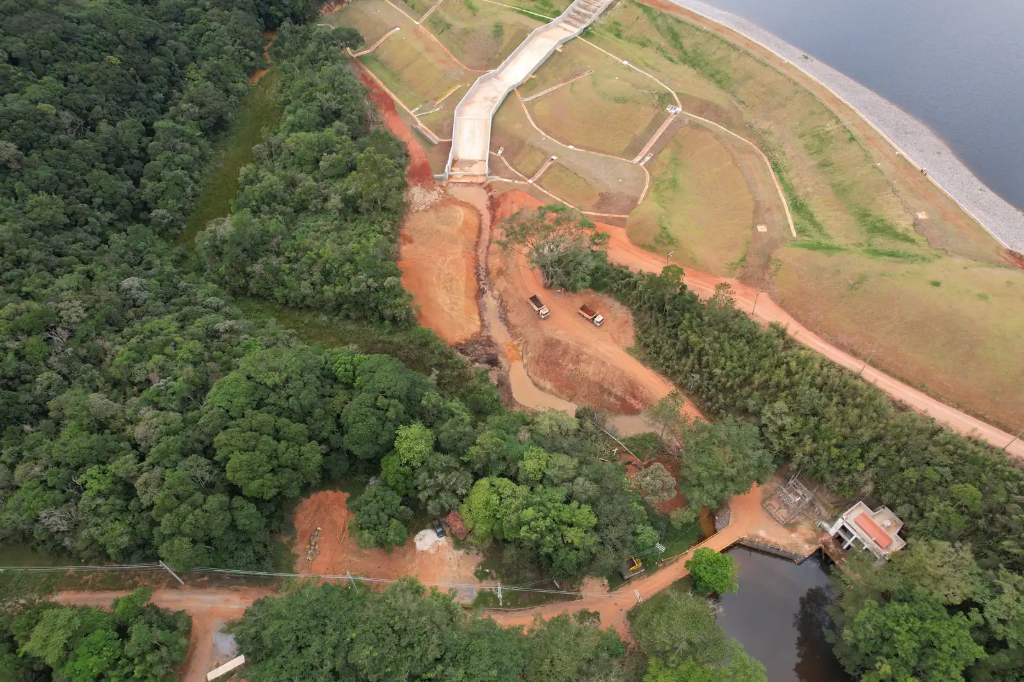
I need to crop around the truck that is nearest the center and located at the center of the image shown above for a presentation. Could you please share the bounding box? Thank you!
[528,291,552,322]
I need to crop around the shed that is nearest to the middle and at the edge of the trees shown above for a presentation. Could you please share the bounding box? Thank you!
[441,511,474,549]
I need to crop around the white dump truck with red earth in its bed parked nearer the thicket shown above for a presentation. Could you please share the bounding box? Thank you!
[576,300,606,330]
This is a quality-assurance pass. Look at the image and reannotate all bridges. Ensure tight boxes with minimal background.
[684,522,742,556]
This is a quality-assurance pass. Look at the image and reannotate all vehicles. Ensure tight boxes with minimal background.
[615,561,648,585]
[528,291,552,322]
[432,516,448,542]
[576,300,606,330]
